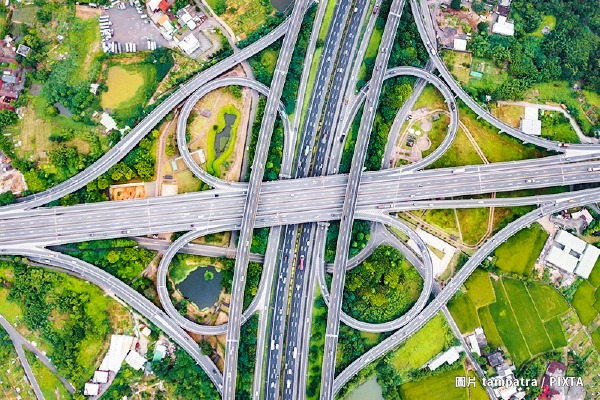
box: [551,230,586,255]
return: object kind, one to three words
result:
building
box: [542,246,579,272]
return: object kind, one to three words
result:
building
